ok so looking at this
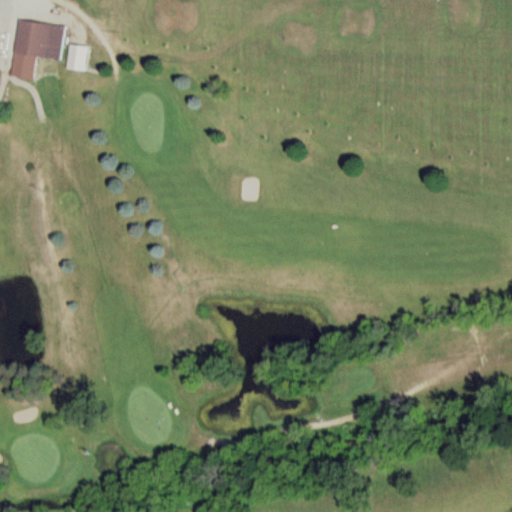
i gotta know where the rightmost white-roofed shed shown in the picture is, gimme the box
[66,44,90,72]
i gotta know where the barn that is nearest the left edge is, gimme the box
[11,18,68,78]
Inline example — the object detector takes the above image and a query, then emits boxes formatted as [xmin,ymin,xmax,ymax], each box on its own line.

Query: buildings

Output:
[66,44,90,72]
[11,18,68,78]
